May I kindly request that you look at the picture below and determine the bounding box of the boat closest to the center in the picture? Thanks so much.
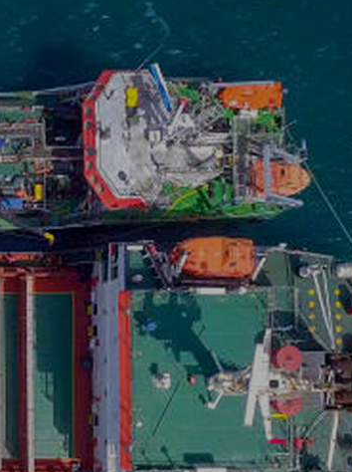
[166,238,252,278]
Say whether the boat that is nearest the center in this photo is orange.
Yes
